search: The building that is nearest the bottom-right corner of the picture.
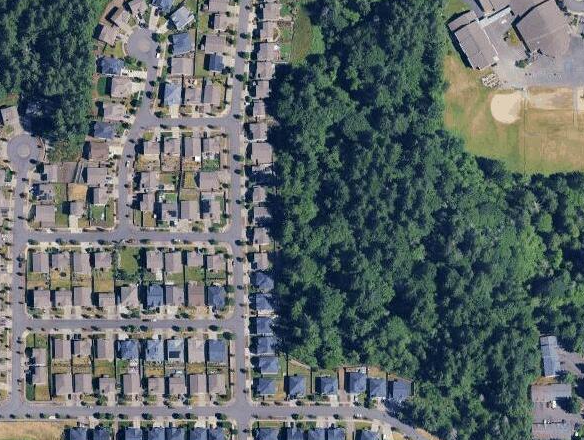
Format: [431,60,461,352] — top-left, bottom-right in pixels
[532,423,571,440]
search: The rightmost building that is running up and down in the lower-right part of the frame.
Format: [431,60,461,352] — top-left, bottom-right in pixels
[540,337,561,378]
